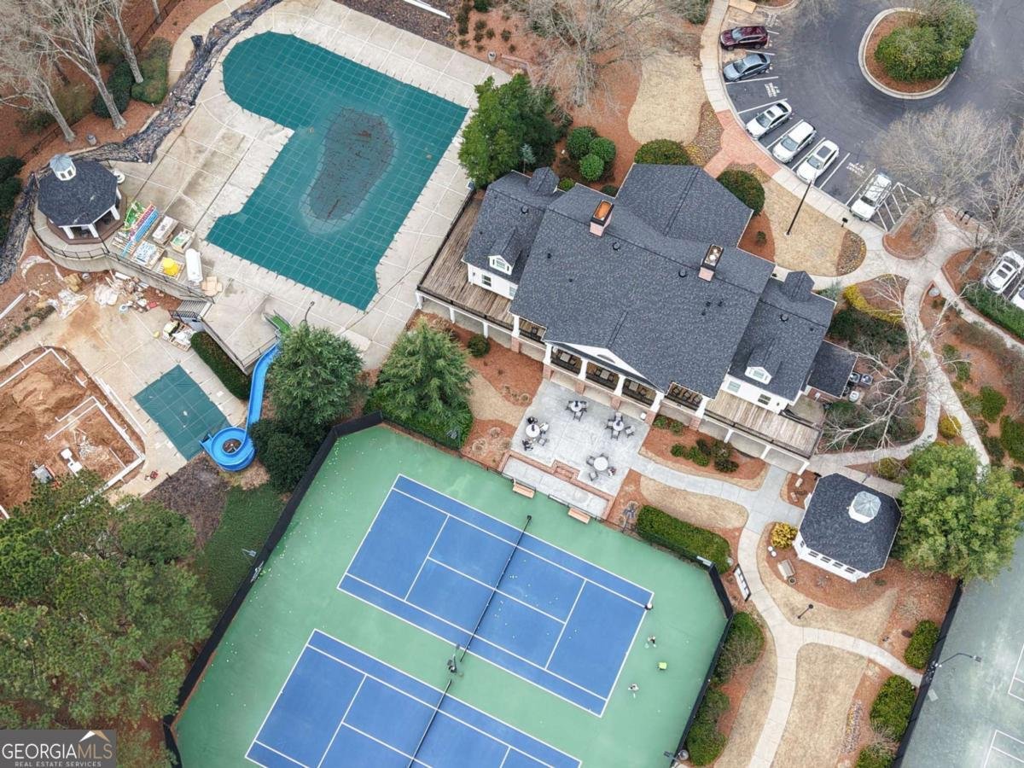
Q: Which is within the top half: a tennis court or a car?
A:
car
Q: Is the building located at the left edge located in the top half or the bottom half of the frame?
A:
top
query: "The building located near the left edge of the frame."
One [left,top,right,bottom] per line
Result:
[34,158,129,244]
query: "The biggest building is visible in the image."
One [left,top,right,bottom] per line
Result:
[414,162,833,476]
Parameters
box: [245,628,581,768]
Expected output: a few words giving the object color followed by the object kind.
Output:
blue tennis court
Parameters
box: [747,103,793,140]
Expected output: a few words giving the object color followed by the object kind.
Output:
white car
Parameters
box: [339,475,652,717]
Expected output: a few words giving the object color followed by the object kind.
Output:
blue tennis court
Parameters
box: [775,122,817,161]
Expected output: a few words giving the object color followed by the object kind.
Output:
white car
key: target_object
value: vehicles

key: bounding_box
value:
[720,25,768,50]
[981,248,1024,292]
[747,103,793,140]
[723,53,771,83]
[1007,278,1024,309]
[852,172,895,219]
[797,140,841,181]
[775,122,817,161]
